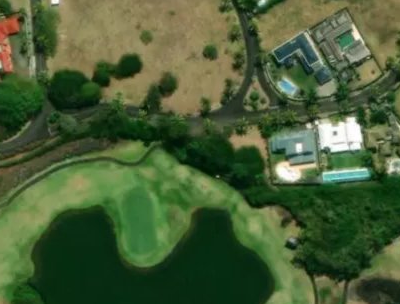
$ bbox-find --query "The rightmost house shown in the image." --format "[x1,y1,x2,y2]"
[364,126,400,157]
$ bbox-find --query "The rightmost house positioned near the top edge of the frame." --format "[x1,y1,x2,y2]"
[313,10,366,73]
